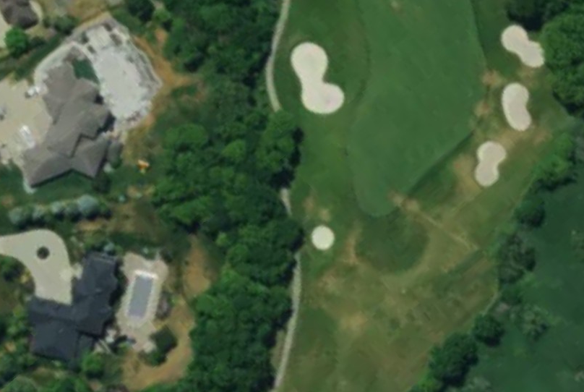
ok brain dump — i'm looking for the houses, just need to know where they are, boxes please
[0,0,42,32]
[25,253,120,364]
[17,60,117,193]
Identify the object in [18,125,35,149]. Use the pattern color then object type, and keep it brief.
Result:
white car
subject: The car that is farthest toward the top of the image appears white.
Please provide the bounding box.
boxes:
[26,84,44,96]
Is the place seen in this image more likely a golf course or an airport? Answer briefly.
golf course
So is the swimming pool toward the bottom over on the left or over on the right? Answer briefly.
left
